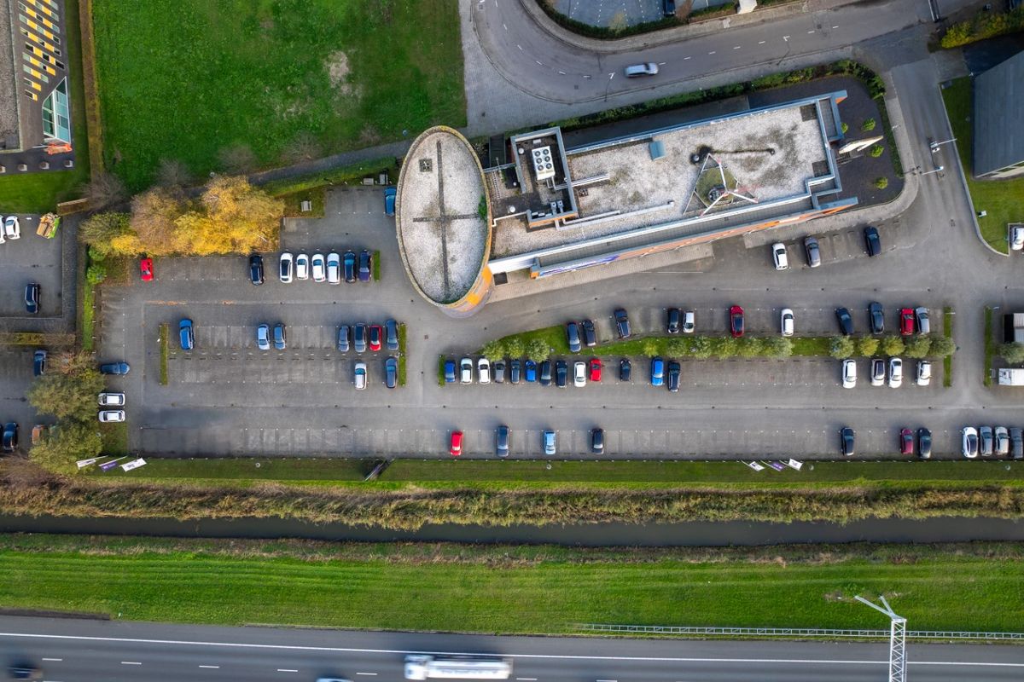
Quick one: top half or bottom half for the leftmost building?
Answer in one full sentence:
The leftmost building sits in the top half of the picture.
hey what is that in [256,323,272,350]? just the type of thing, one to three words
car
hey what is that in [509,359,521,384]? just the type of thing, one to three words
vehicle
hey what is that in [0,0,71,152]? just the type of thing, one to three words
building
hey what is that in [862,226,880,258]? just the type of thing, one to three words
car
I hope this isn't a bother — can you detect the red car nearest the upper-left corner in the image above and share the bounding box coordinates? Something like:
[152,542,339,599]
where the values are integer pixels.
[140,258,156,281]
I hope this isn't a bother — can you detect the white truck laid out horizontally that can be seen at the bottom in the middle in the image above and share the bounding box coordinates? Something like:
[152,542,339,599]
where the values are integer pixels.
[405,652,512,679]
